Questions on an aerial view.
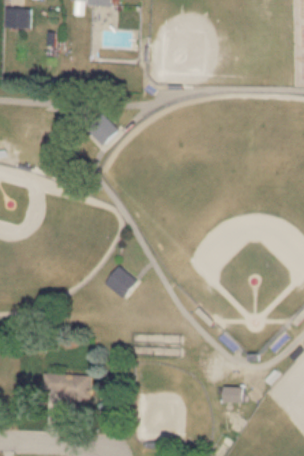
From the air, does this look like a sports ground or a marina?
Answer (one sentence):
This image shows a sports ground.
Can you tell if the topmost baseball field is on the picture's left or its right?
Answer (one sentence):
It is on the right.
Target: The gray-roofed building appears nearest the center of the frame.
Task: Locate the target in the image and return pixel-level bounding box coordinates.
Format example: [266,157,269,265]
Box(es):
[104,264,138,298]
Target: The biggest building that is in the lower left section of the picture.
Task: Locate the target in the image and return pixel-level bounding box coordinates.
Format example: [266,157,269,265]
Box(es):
[43,374,94,402]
